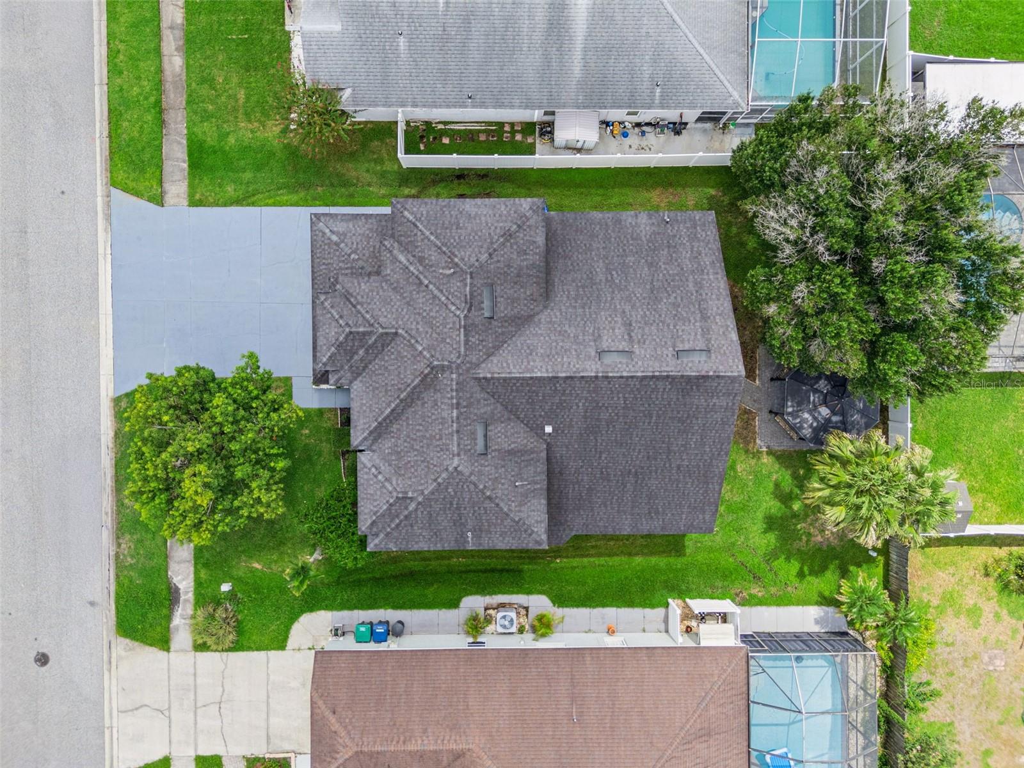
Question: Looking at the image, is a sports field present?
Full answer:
No, no sports field is visible in the scene.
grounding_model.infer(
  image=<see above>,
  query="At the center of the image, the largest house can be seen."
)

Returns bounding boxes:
[309,196,746,551]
